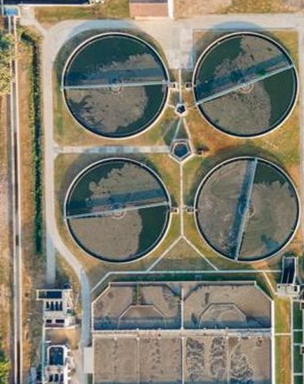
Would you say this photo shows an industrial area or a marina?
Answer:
industrial area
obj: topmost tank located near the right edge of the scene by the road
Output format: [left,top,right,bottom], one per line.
[193,32,299,138]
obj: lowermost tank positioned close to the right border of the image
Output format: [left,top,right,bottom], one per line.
[194,156,301,263]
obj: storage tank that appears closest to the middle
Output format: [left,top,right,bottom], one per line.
[65,159,173,264]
